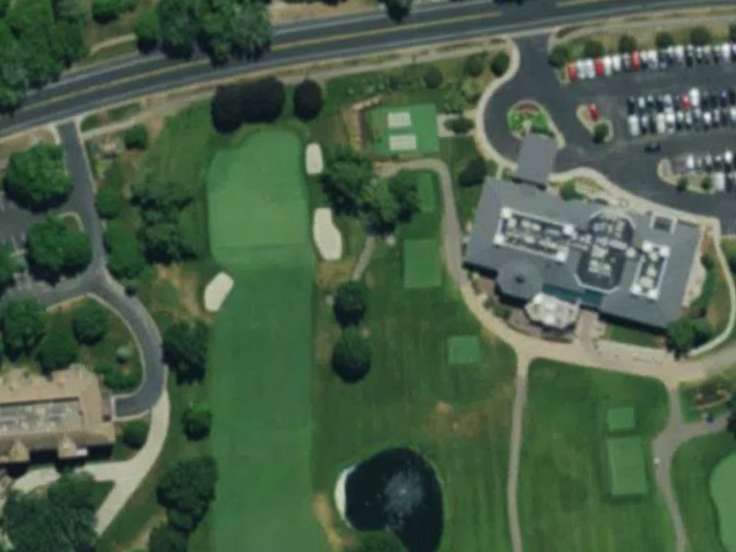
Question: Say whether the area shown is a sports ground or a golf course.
golf course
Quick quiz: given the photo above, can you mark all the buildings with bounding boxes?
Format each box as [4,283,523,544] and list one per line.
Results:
[0,365,115,480]
[463,136,701,341]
